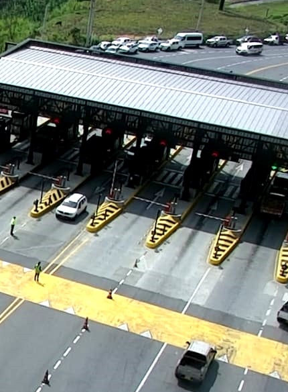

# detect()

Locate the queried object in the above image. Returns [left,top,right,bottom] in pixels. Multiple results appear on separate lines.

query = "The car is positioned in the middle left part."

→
[56,190,87,222]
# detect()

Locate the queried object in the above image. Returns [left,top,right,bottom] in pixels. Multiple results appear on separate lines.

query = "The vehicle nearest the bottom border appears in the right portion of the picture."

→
[172,343,218,389]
